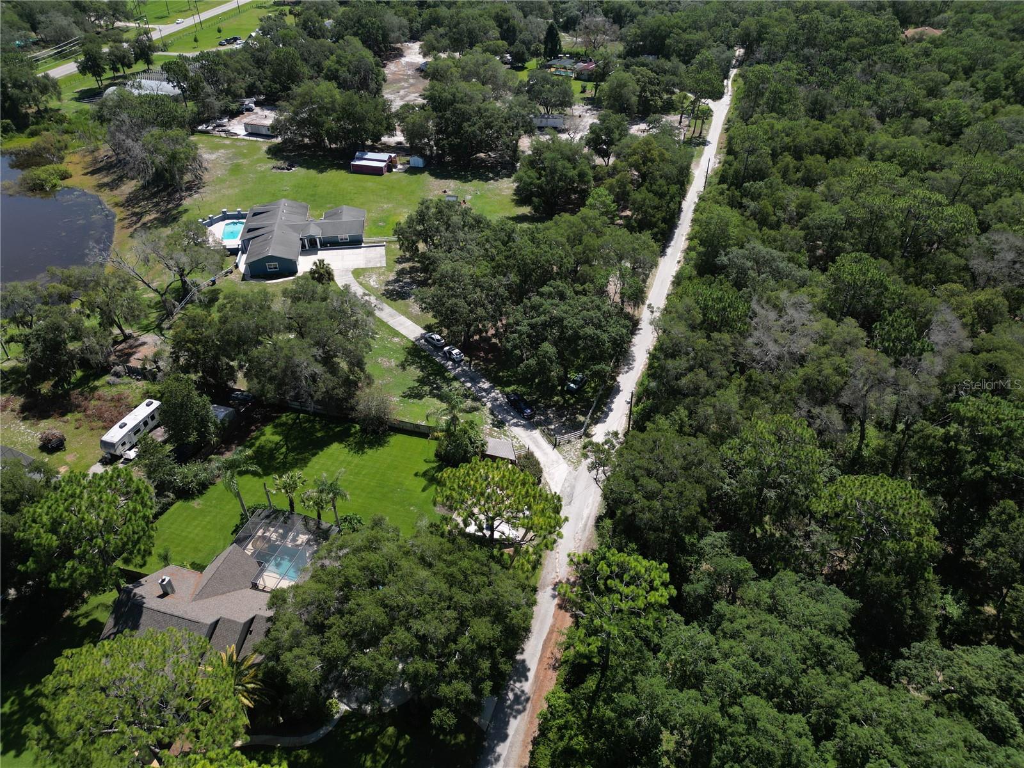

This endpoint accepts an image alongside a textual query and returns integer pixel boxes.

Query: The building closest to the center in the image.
[484,439,516,473]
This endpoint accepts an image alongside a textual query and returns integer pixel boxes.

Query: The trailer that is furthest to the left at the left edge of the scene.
[25,419,77,448]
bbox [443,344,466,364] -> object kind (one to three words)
car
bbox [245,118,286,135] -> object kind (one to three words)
house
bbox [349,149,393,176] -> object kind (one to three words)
barn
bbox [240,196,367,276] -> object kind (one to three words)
house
